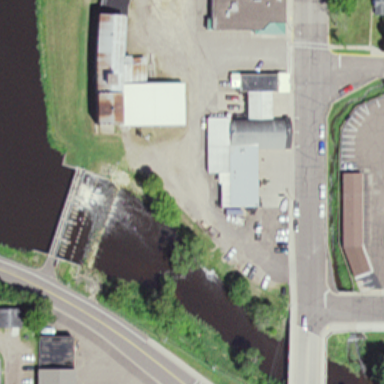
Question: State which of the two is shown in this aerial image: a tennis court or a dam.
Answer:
dam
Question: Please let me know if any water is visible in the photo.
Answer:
Yes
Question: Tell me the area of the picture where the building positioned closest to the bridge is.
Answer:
right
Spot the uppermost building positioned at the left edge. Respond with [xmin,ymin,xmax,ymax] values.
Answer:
[0,307,21,329]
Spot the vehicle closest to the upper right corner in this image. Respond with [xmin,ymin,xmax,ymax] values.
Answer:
[339,83,355,96]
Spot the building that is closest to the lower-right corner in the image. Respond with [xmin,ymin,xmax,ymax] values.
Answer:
[344,172,376,280]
